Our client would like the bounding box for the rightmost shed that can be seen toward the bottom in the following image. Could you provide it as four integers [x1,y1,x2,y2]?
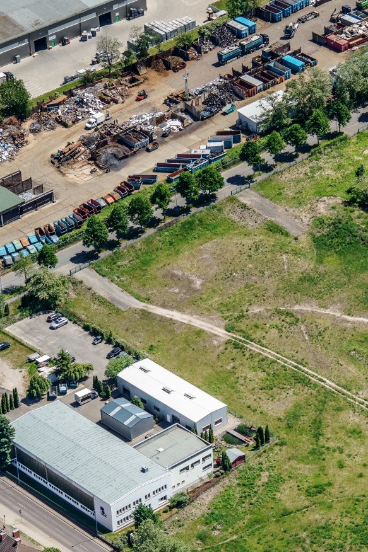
[219,446,245,470]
